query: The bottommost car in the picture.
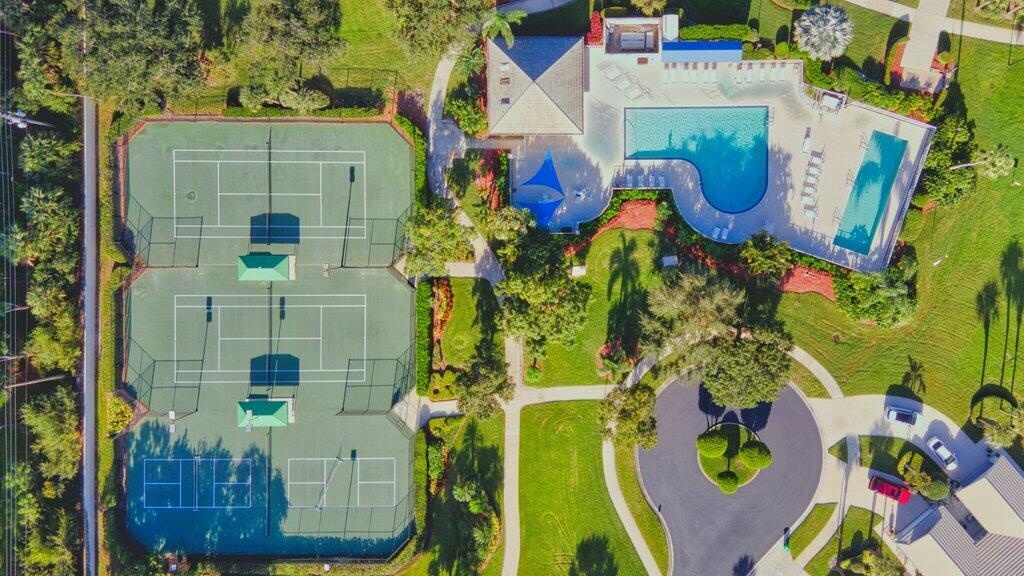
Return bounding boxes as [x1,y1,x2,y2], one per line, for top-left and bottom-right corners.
[866,476,911,503]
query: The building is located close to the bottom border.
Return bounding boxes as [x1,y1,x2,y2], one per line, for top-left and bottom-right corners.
[892,456,1024,576]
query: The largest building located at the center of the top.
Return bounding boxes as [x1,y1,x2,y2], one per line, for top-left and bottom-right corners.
[487,36,584,137]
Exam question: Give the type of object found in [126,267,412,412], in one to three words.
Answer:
tennis court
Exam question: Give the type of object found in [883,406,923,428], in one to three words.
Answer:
car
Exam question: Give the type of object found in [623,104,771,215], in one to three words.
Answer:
swimming pool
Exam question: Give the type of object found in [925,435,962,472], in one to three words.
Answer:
car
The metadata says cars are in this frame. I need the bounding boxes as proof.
[883,406,923,428]
[925,435,962,472]
[866,476,911,503]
